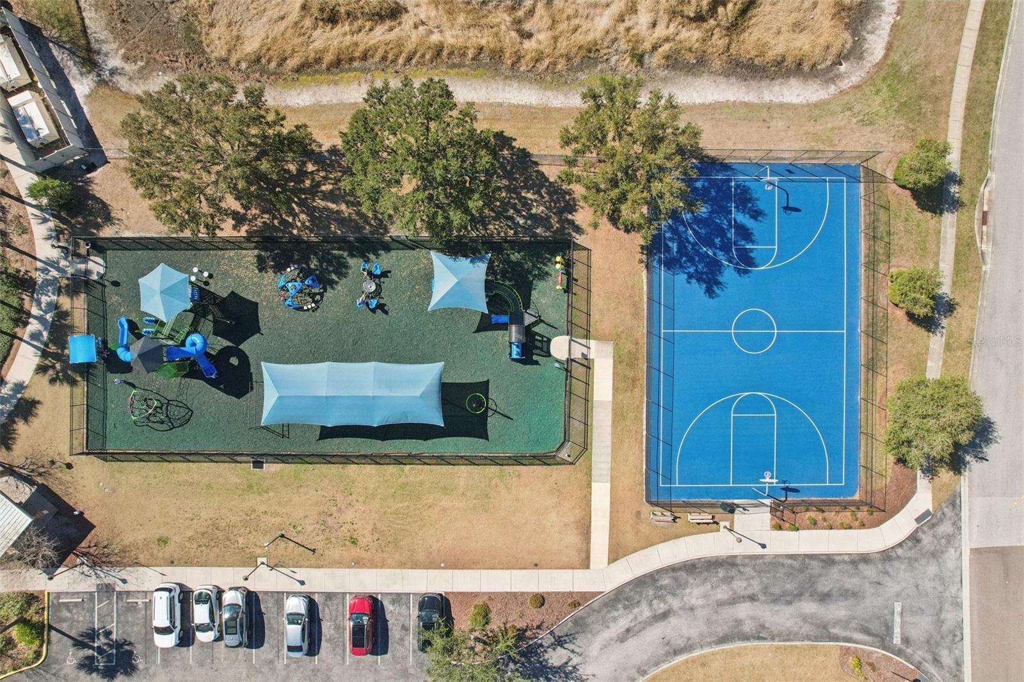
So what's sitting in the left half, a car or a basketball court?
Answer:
car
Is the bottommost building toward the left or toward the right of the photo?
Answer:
left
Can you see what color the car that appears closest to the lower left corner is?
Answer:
white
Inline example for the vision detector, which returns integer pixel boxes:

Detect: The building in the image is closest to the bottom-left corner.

[0,489,54,556]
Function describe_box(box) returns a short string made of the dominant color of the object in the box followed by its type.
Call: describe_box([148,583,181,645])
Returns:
white car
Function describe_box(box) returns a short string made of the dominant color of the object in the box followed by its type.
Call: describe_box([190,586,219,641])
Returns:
white car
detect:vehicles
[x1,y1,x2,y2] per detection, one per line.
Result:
[346,593,374,654]
[418,591,446,652]
[190,586,219,641]
[148,583,181,645]
[280,593,309,654]
[219,586,249,646]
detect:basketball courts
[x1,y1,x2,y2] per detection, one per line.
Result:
[645,162,862,503]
